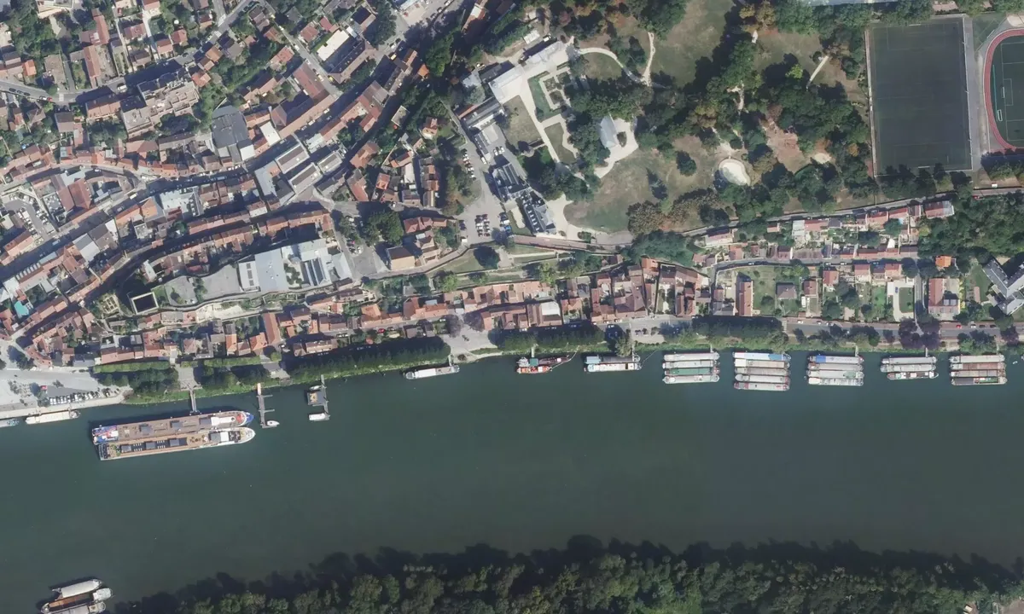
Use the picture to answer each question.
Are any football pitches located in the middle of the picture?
No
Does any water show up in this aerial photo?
Yes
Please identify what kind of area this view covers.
residential area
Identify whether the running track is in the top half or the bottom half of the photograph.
top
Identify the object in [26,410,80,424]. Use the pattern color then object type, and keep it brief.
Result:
white ship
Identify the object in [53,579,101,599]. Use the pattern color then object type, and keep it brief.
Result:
white ship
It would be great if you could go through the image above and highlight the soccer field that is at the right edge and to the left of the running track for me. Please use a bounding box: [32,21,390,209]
[865,17,973,177]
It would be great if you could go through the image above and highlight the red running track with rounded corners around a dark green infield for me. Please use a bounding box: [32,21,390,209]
[984,30,1024,151]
